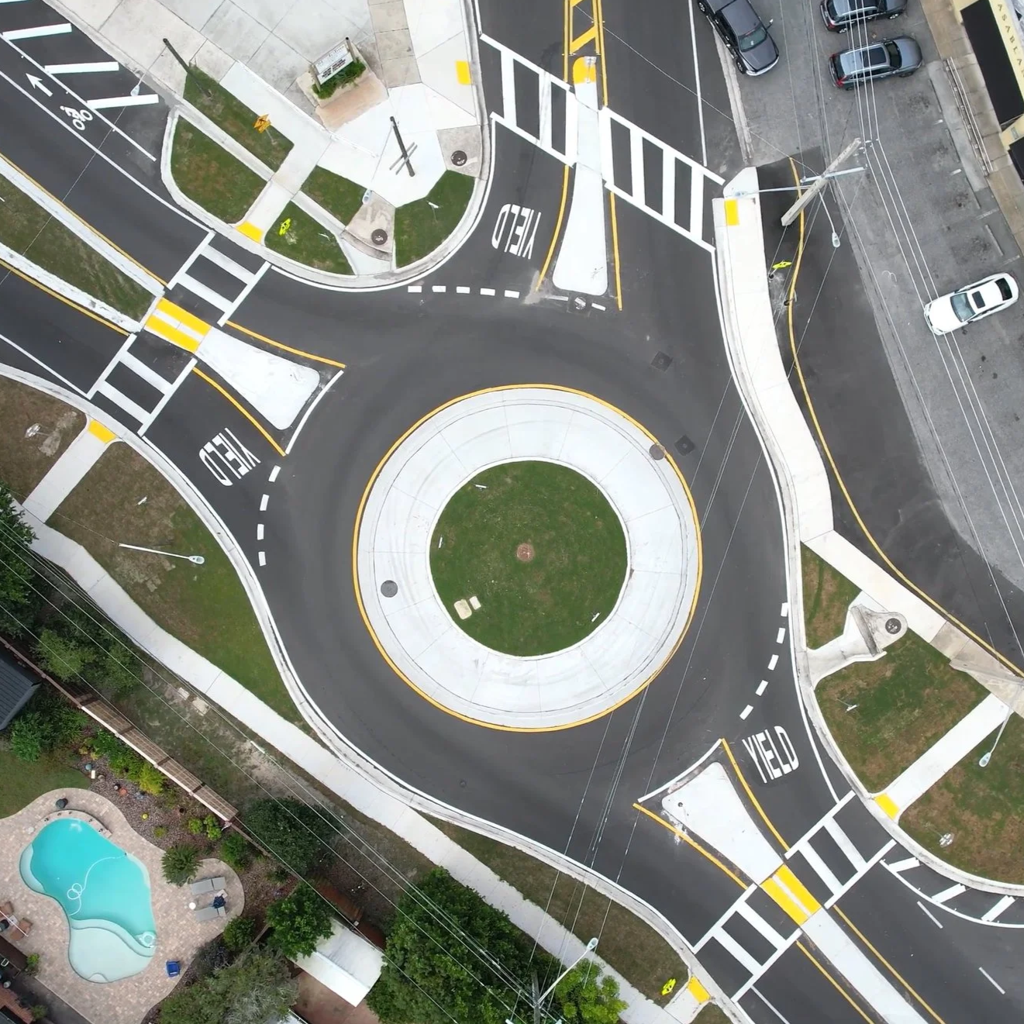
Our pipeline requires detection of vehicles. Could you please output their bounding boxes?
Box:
[813,0,909,40]
[826,37,922,95]
[920,270,1022,337]
[690,0,779,75]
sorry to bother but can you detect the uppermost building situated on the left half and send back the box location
[0,643,45,732]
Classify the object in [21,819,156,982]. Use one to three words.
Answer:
swimming pool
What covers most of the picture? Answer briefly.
paved ground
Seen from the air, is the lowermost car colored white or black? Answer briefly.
white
